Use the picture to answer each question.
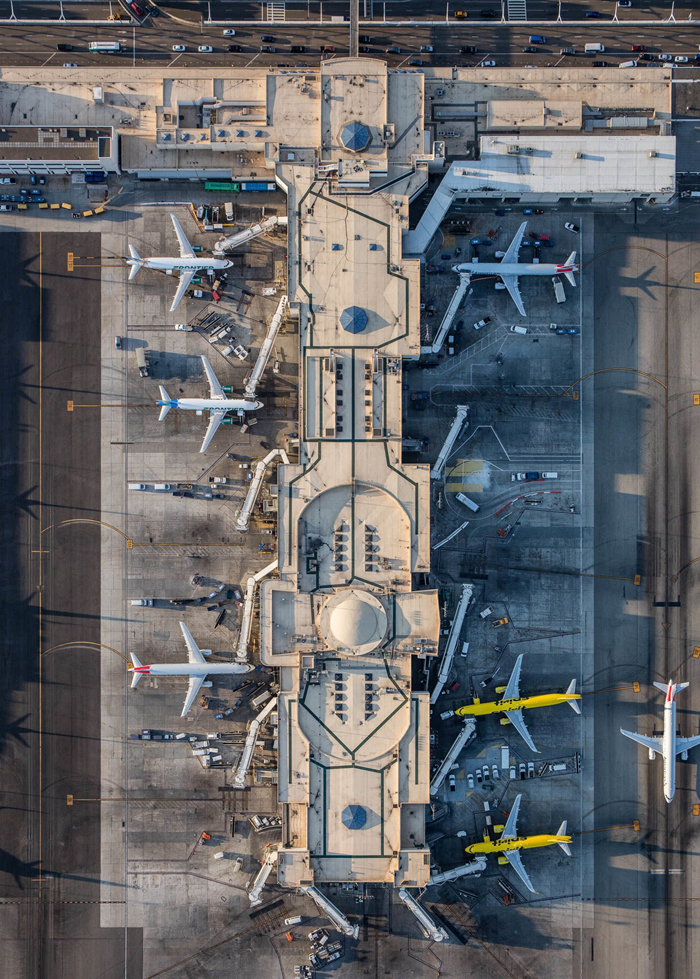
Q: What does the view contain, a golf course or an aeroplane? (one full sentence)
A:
Visible in the photo is an aeroplane.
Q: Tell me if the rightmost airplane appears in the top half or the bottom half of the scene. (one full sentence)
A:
You can find the rightmost airplane in the bottom half.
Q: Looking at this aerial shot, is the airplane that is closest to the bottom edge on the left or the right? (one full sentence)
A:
The airplane that is closest to the bottom edge sits on the right side.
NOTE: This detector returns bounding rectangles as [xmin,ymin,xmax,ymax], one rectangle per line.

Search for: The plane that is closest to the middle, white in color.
[157,352,264,455]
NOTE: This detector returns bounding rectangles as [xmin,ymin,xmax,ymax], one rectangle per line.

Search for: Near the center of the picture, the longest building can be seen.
[261,163,441,887]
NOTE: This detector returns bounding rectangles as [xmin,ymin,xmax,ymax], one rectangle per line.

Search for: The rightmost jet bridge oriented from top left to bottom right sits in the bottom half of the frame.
[396,887,449,943]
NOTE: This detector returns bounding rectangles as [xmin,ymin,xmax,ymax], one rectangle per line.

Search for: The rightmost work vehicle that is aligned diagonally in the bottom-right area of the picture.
[536,760,551,778]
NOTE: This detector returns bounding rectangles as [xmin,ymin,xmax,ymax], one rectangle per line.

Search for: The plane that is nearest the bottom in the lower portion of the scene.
[465,794,575,898]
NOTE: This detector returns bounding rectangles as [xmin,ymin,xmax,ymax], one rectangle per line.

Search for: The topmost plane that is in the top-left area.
[125,209,234,315]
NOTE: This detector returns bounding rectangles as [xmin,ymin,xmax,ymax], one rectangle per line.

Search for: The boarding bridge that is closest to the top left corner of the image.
[210,214,288,261]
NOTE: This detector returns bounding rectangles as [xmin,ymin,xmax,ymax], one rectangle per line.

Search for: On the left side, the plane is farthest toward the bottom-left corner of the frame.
[127,620,255,718]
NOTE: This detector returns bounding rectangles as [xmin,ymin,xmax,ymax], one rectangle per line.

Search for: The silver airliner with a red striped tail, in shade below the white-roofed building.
[451,220,580,317]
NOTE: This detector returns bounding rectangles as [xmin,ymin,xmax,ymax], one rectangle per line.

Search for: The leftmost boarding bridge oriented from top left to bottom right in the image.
[304,883,361,934]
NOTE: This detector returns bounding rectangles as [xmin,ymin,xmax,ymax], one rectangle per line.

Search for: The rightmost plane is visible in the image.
[621,680,700,802]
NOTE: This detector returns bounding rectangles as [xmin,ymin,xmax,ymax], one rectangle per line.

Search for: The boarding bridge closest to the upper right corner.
[420,270,474,356]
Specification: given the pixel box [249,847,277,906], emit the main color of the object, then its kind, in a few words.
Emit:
white jet bridge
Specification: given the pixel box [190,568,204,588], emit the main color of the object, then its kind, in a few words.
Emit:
gray vehicle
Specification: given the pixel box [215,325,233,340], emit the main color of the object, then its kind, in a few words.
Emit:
white vehicle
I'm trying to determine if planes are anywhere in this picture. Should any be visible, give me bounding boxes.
[455,651,583,755]
[465,794,575,898]
[621,680,700,802]
[125,209,234,315]
[127,620,255,718]
[157,352,264,455]
[451,220,580,317]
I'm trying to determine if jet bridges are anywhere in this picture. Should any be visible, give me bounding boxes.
[430,580,474,704]
[420,270,474,356]
[235,695,278,790]
[425,848,491,889]
[234,447,293,533]
[304,883,361,934]
[430,402,468,480]
[396,887,449,943]
[249,847,277,906]
[235,558,278,664]
[210,214,288,261]
[242,293,288,400]
[430,713,479,795]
